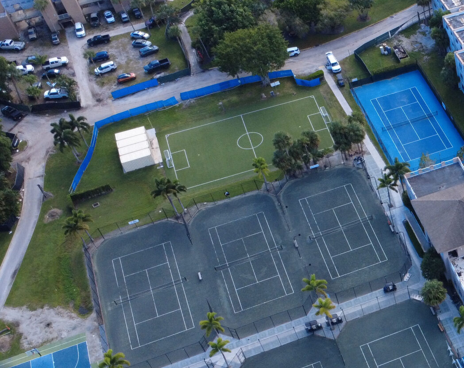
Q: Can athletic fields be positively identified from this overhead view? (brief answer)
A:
Yes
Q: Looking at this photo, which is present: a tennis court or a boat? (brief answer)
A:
tennis court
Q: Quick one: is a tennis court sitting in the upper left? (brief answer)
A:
No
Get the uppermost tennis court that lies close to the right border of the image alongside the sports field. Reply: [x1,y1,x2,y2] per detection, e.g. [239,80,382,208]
[354,70,464,170]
